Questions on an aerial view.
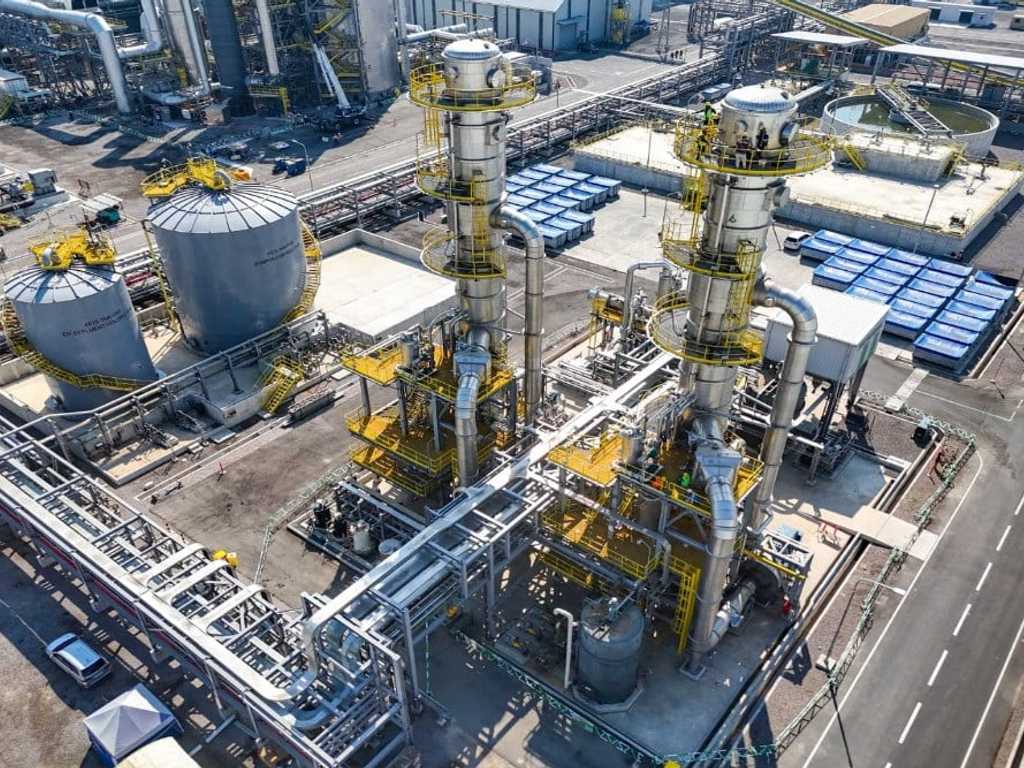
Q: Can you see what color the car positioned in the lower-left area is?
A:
blue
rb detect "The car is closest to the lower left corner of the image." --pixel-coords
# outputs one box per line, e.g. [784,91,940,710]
[49,637,116,694]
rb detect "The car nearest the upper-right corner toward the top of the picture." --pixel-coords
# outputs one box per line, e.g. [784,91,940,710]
[783,229,807,248]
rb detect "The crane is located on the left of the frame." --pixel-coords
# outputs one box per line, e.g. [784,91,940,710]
[304,0,368,117]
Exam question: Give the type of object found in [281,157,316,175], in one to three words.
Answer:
vehicle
